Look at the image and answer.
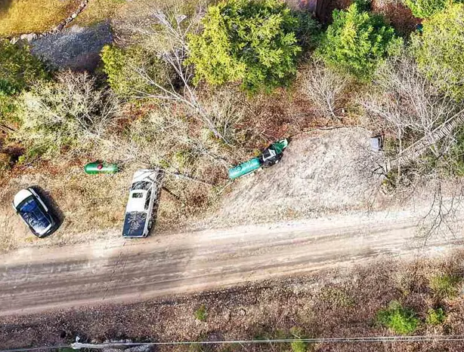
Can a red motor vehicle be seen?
No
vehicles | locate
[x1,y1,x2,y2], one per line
[16,188,60,245]
[256,134,298,173]
[122,170,166,246]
